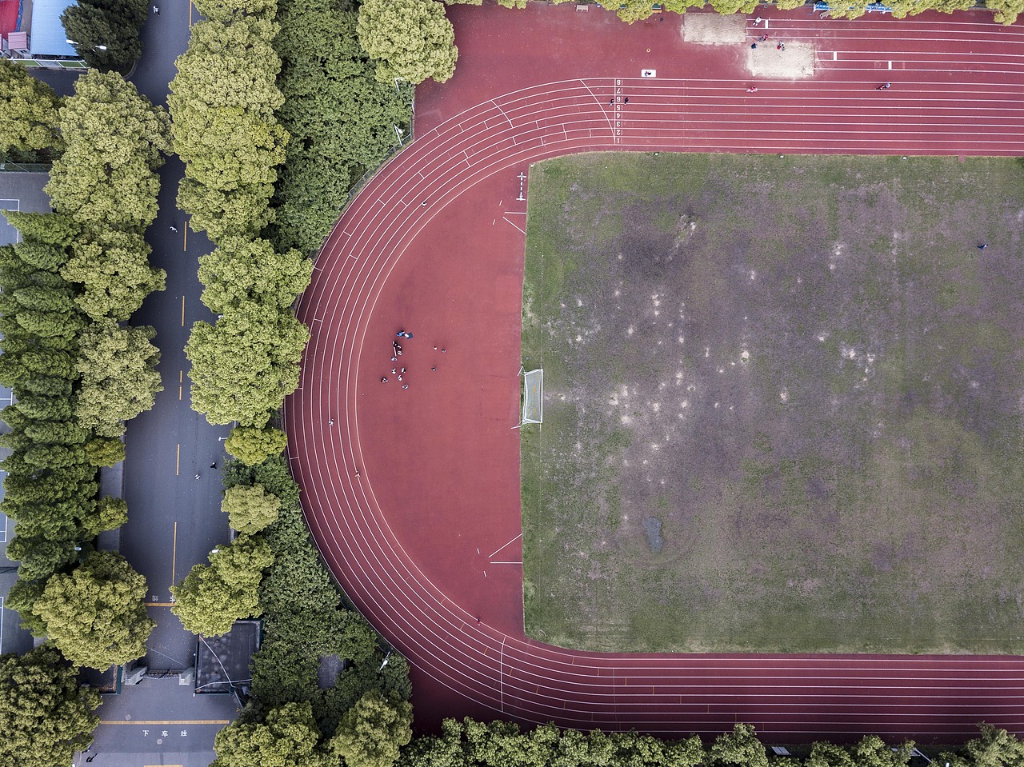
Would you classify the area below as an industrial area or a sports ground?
sports ground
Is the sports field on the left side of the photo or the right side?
right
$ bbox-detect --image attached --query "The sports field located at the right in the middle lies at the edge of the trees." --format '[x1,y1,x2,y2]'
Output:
[521,150,1024,654]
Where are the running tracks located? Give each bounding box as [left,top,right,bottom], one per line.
[282,2,1024,743]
